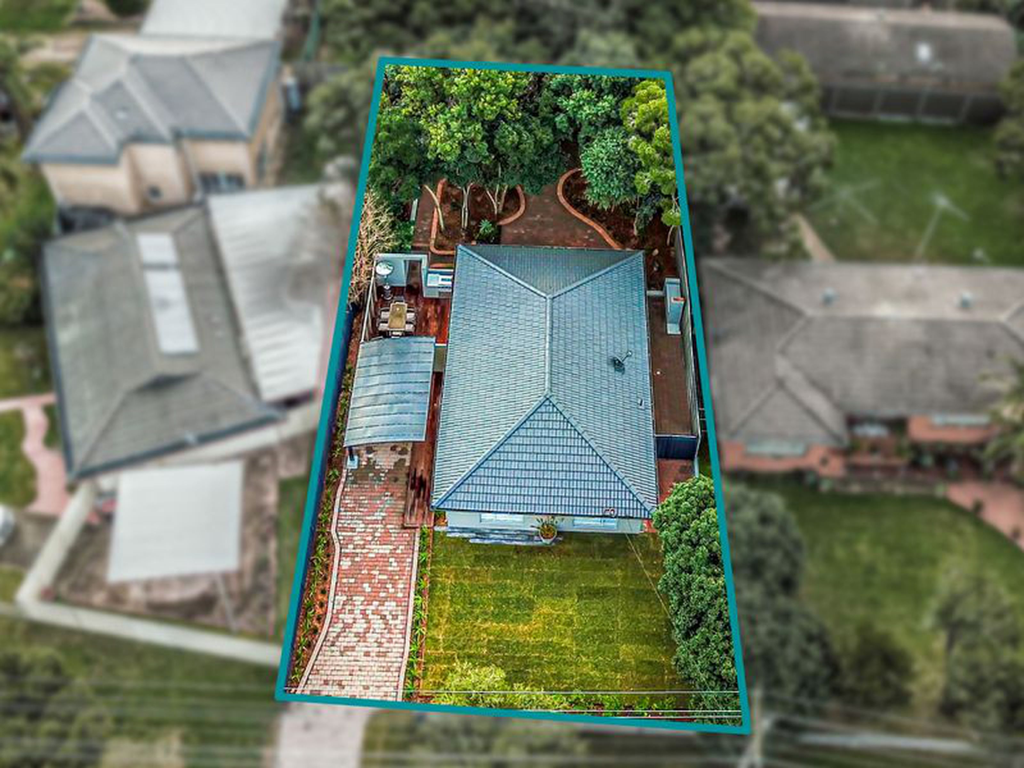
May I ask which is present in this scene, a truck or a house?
house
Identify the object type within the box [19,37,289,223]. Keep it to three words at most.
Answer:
house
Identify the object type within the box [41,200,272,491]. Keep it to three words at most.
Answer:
house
